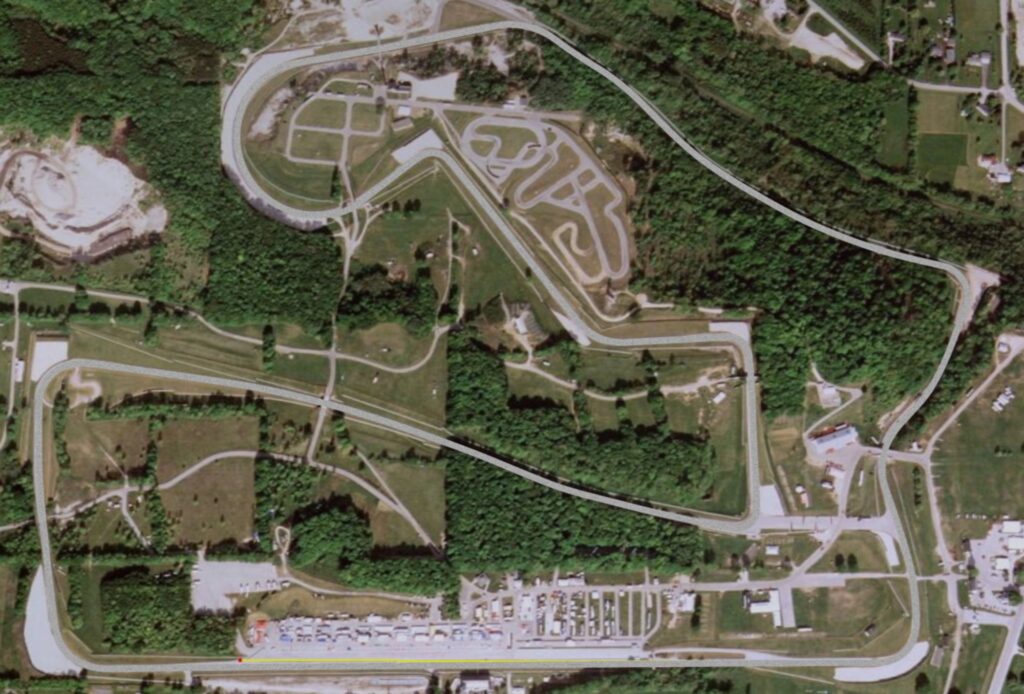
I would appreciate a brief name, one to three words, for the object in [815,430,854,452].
building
